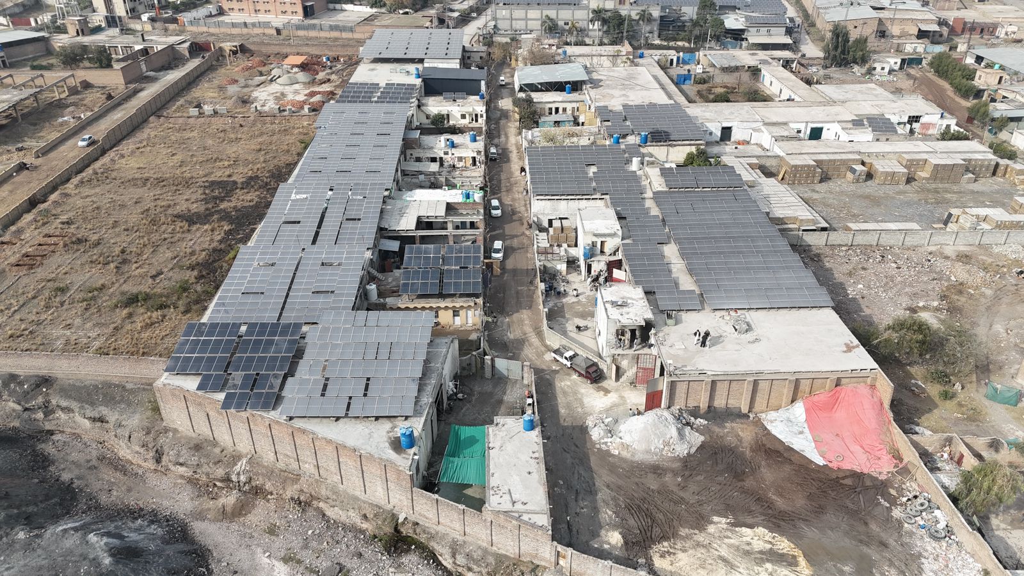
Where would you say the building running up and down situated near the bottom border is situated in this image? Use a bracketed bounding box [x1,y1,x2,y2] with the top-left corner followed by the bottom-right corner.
[487,418,552,561]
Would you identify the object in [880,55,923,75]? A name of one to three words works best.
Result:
shed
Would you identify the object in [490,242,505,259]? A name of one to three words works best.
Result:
car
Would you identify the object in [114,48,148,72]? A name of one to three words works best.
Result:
building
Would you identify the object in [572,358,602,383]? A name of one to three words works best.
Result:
truck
